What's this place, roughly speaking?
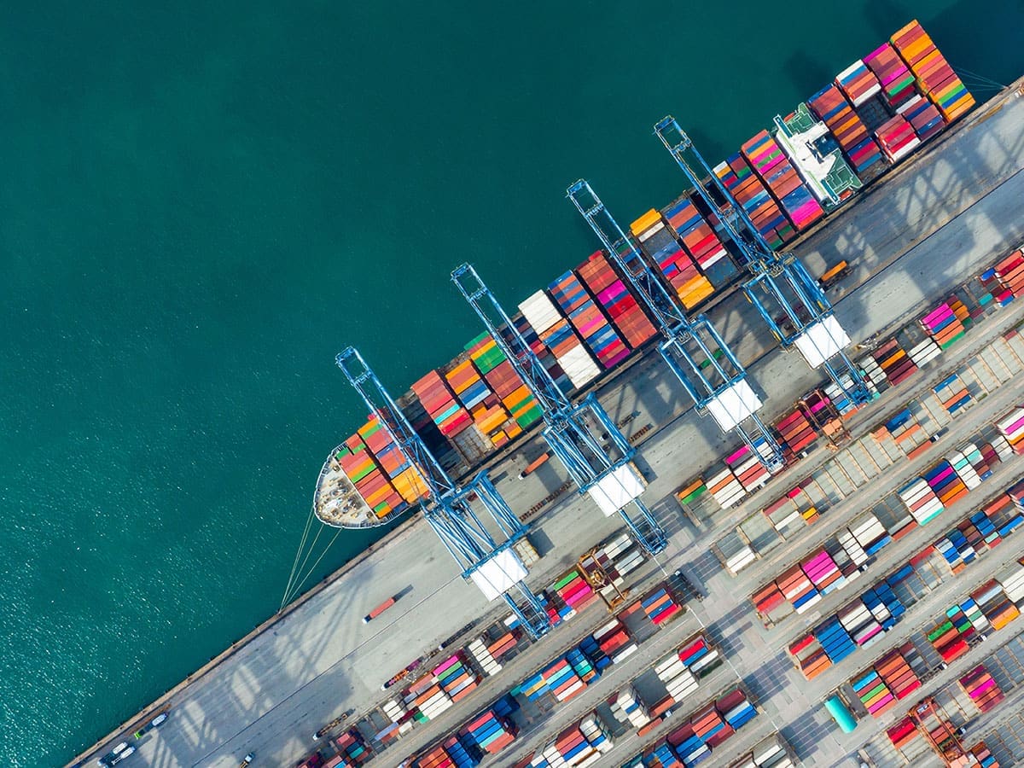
port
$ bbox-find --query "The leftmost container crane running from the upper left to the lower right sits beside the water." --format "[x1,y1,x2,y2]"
[331,343,556,641]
